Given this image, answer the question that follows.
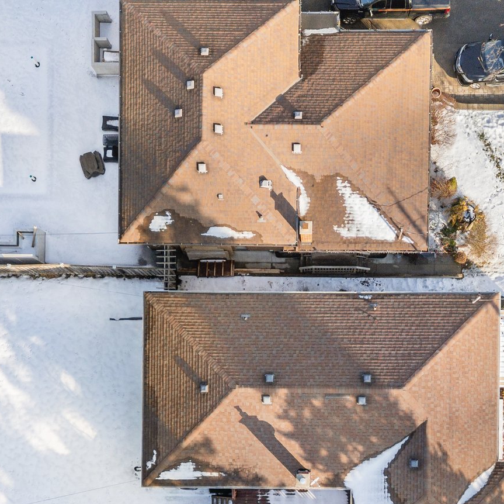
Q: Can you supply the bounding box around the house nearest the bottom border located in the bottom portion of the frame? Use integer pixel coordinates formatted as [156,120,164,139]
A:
[140,289,504,504]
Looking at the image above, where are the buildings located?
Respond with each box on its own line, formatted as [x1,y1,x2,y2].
[140,289,504,504]
[116,0,434,255]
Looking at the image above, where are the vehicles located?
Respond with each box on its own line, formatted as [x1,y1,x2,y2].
[453,33,504,88]
[329,0,450,24]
